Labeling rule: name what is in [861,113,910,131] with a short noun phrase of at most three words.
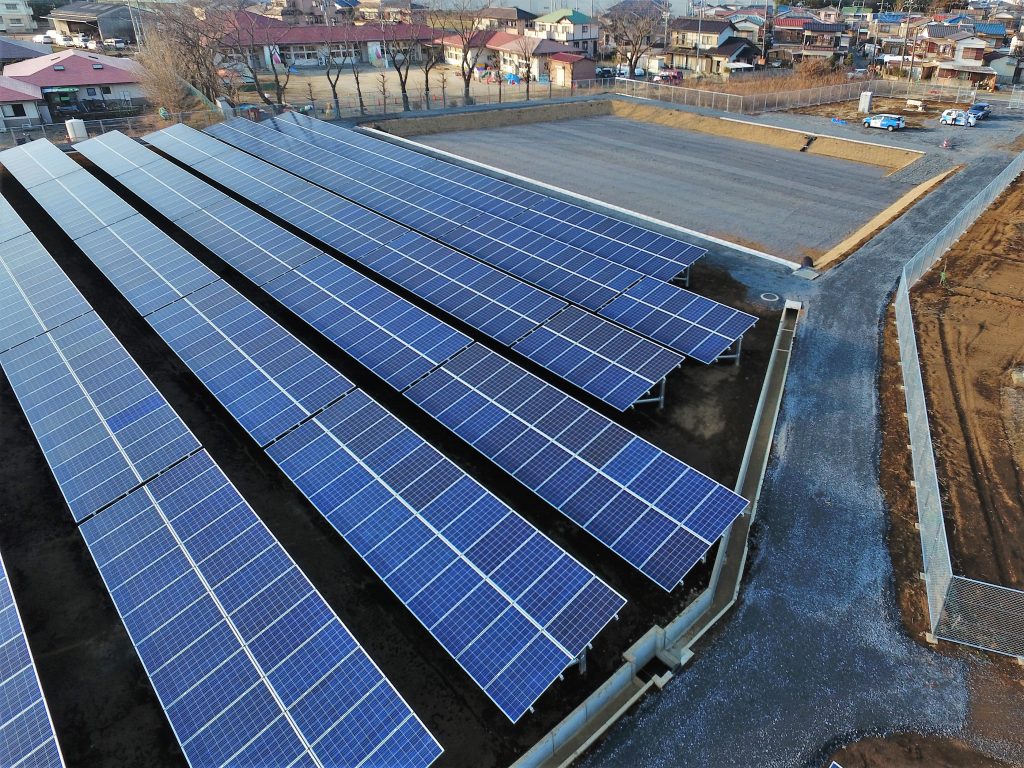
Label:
car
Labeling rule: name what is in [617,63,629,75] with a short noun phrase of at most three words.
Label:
vehicle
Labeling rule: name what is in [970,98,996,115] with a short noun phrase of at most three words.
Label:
car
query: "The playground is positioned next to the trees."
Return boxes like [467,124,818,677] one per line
[231,64,566,119]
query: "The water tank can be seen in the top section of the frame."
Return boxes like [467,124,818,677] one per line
[58,115,89,146]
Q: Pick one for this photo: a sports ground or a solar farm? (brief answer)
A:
solar farm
